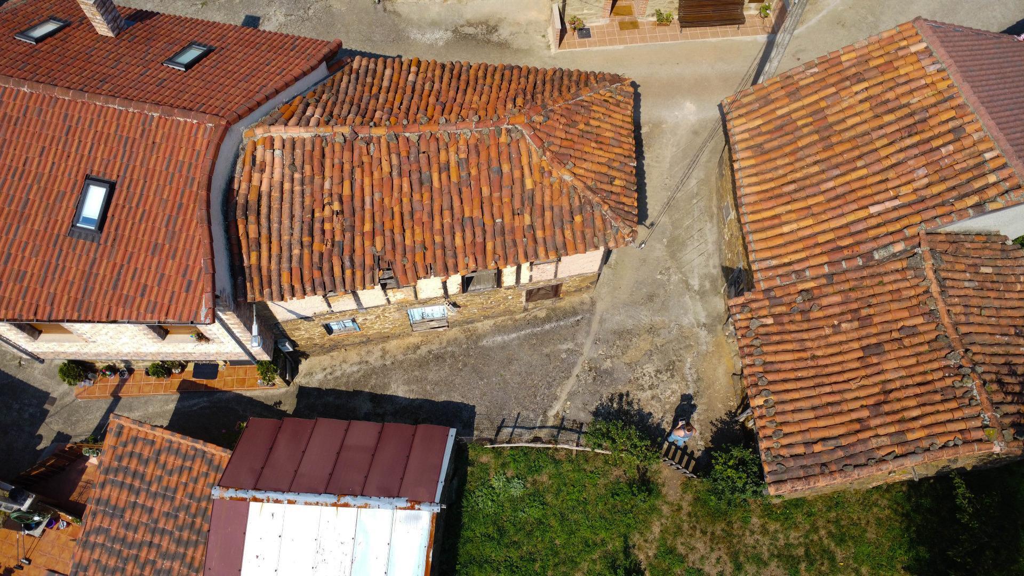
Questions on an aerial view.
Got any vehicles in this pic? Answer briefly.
No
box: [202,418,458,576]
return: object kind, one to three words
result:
shed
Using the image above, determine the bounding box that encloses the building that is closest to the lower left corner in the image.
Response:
[63,408,240,576]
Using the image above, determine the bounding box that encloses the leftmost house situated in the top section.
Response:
[0,0,344,368]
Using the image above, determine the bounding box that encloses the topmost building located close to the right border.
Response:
[714,12,1024,300]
